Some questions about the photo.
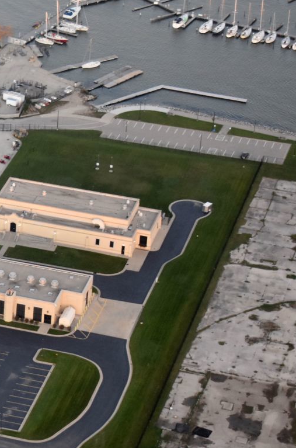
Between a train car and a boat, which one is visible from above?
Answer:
boat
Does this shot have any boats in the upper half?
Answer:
Yes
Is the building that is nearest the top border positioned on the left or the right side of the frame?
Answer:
left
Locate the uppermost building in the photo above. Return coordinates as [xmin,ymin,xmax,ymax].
[0,177,162,256]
